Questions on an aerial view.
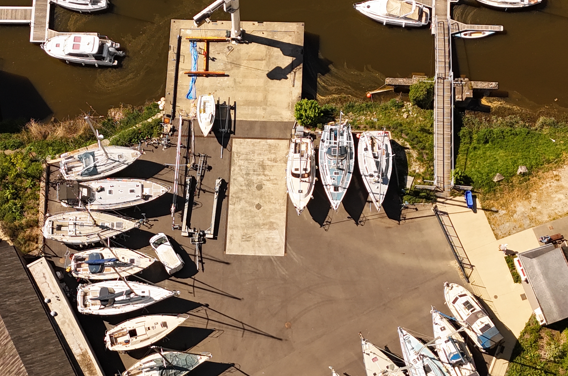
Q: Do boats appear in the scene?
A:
Yes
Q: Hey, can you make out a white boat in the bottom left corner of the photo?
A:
Yes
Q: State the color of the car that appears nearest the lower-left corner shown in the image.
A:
white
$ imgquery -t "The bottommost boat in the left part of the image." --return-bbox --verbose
[122,337,214,376]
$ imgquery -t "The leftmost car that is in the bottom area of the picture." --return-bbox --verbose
[151,232,185,275]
